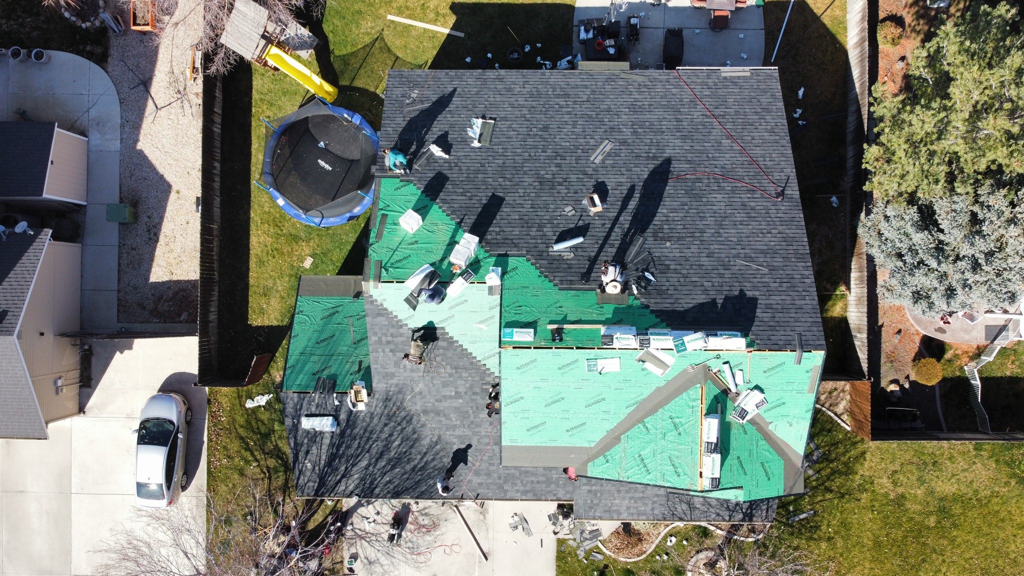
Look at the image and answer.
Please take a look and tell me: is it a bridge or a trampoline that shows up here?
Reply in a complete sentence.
There is a trampoline in the scene.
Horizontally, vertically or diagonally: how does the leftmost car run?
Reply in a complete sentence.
From this overhead view, the leftmost car appears to run vertically.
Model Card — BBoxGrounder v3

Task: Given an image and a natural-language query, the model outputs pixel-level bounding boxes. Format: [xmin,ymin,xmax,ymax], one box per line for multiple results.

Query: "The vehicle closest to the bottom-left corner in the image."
[129,392,190,508]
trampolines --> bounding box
[247,94,376,228]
